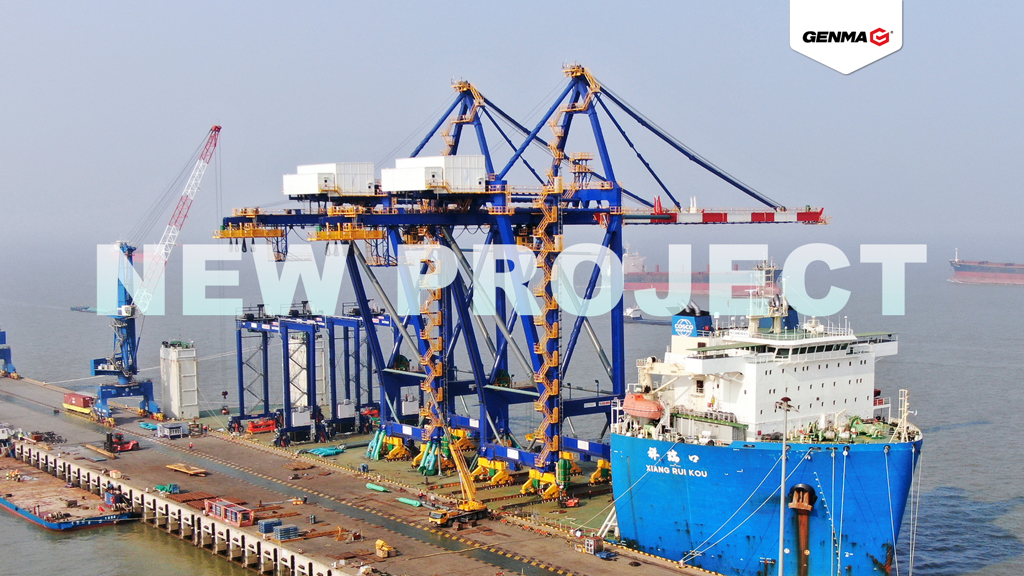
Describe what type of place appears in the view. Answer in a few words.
port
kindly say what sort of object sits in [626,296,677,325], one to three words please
ship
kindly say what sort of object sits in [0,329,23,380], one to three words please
crane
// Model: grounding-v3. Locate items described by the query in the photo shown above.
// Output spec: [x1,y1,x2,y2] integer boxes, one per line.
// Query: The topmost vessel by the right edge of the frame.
[933,237,1024,286]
